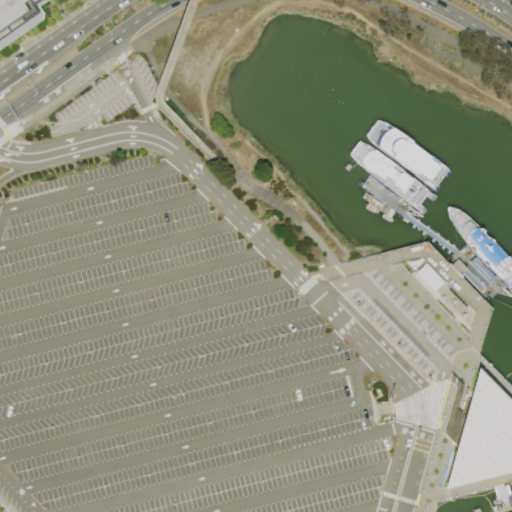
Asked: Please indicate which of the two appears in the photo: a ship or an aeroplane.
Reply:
ship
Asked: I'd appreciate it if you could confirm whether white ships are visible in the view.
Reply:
Yes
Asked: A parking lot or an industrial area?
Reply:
parking lot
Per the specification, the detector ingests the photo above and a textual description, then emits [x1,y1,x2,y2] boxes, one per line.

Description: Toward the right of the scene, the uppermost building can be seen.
[417,262,445,292]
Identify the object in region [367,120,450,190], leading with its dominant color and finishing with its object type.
white ship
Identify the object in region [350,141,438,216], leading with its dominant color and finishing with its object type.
white ship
